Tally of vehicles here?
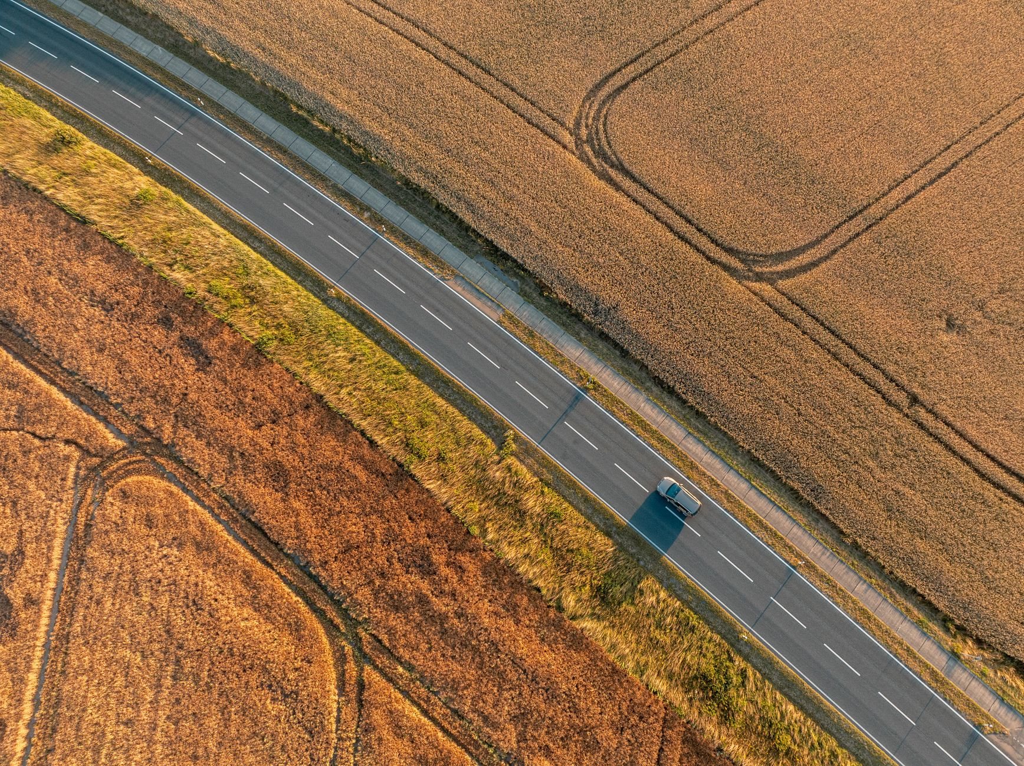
1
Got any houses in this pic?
No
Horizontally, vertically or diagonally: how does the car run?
diagonally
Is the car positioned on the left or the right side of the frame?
right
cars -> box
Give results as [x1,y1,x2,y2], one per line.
[657,476,704,518]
